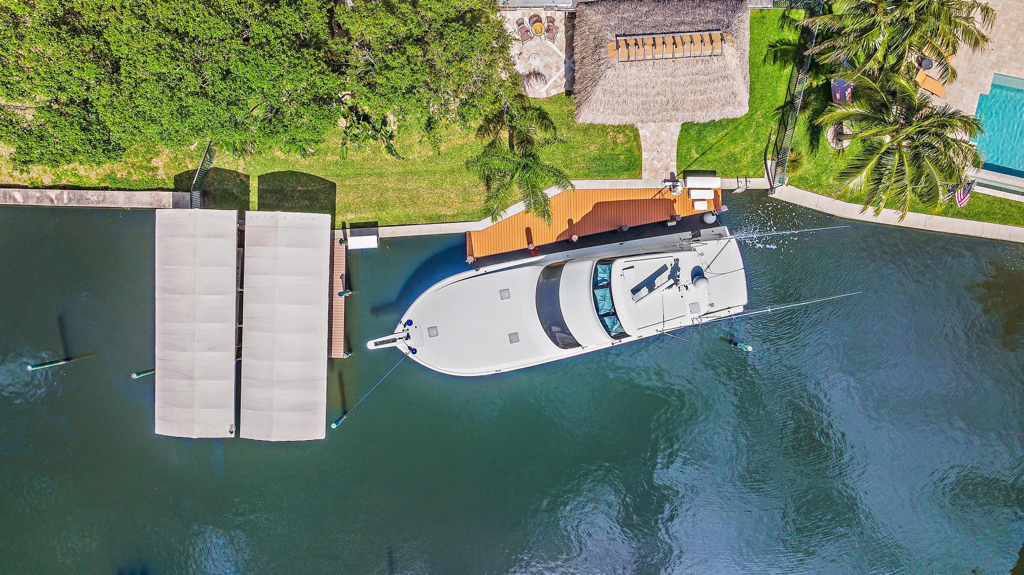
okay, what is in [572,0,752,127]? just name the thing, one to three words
shed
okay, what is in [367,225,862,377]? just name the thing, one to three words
boat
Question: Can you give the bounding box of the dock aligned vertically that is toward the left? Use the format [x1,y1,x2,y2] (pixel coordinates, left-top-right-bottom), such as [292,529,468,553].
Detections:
[328,238,347,357]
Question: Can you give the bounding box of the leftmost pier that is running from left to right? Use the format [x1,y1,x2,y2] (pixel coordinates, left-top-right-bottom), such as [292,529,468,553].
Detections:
[467,190,722,258]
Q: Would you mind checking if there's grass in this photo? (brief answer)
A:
Yes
